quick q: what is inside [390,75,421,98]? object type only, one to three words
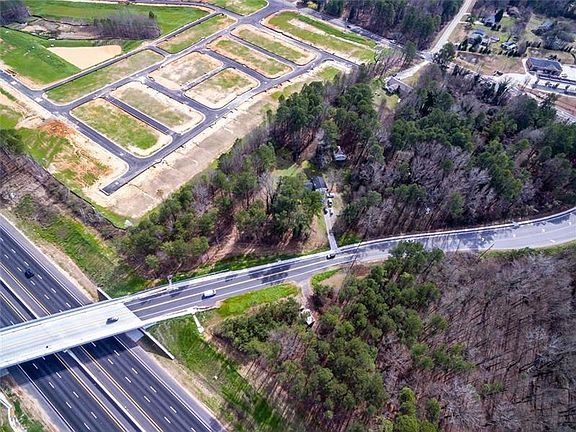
house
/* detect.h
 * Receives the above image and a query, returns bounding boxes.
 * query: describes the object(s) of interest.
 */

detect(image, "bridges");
[0,296,150,382]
